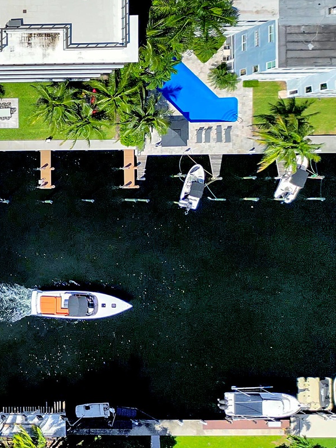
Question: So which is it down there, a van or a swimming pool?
swimming pool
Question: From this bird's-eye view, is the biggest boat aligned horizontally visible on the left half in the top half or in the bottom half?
bottom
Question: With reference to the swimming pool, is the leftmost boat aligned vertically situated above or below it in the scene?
below it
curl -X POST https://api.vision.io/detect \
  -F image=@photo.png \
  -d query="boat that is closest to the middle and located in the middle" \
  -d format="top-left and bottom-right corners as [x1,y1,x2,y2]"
[179,164,204,218]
